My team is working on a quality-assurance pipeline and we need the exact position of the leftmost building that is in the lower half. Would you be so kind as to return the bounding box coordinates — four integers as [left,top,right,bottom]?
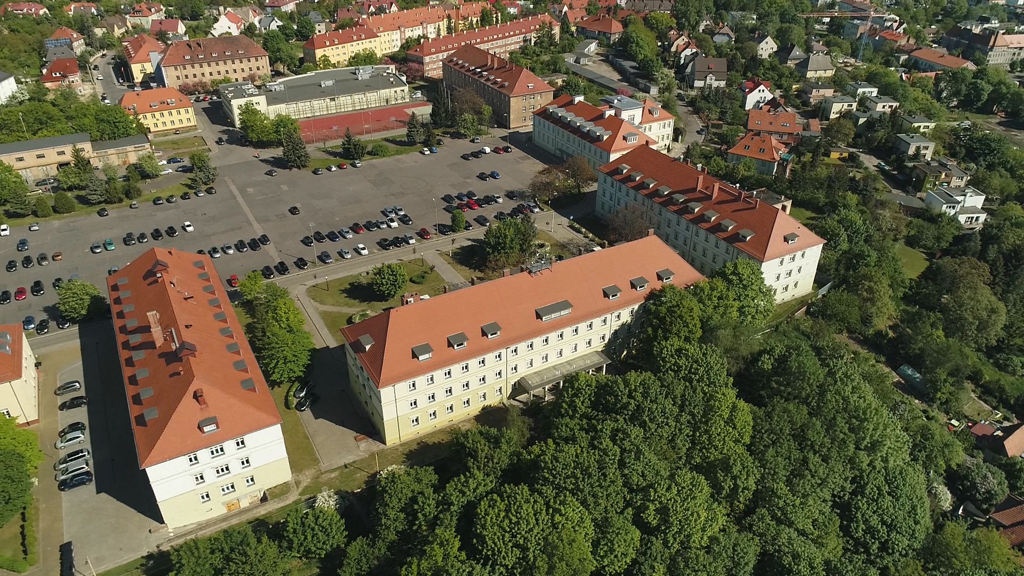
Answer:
[0,320,50,438]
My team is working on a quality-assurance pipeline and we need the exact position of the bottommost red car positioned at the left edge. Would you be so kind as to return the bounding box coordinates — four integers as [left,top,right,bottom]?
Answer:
[16,285,28,298]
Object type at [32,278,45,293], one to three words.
vehicle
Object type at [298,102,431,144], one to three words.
sports court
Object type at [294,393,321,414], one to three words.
car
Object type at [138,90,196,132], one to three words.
house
